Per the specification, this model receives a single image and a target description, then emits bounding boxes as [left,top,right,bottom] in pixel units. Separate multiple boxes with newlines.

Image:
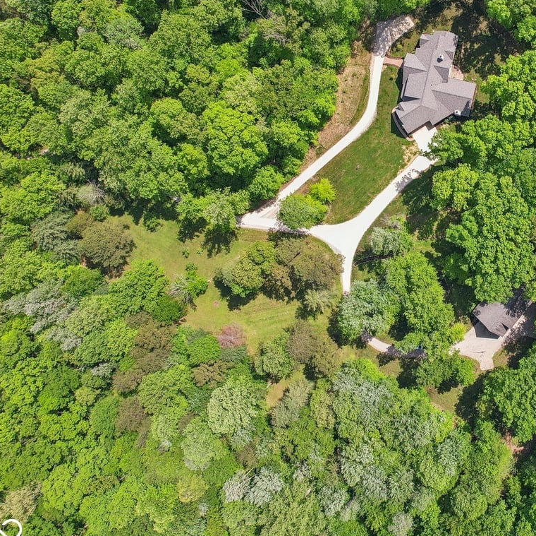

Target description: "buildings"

[475,287,527,337]
[393,28,478,135]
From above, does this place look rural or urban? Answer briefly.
rural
